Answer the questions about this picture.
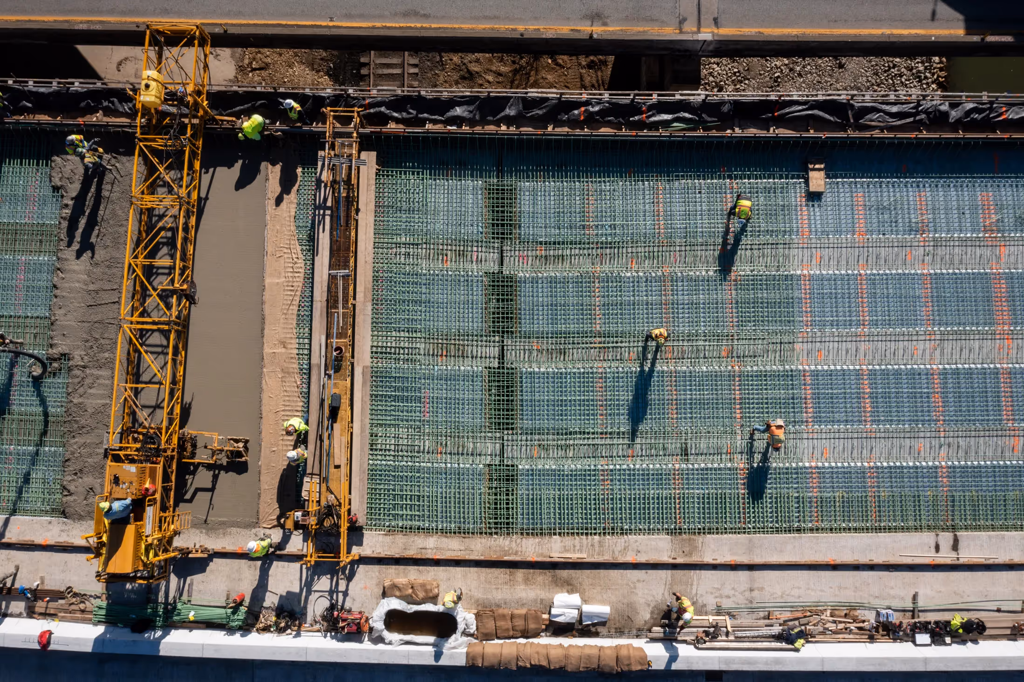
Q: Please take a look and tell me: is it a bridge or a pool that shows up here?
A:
bridge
